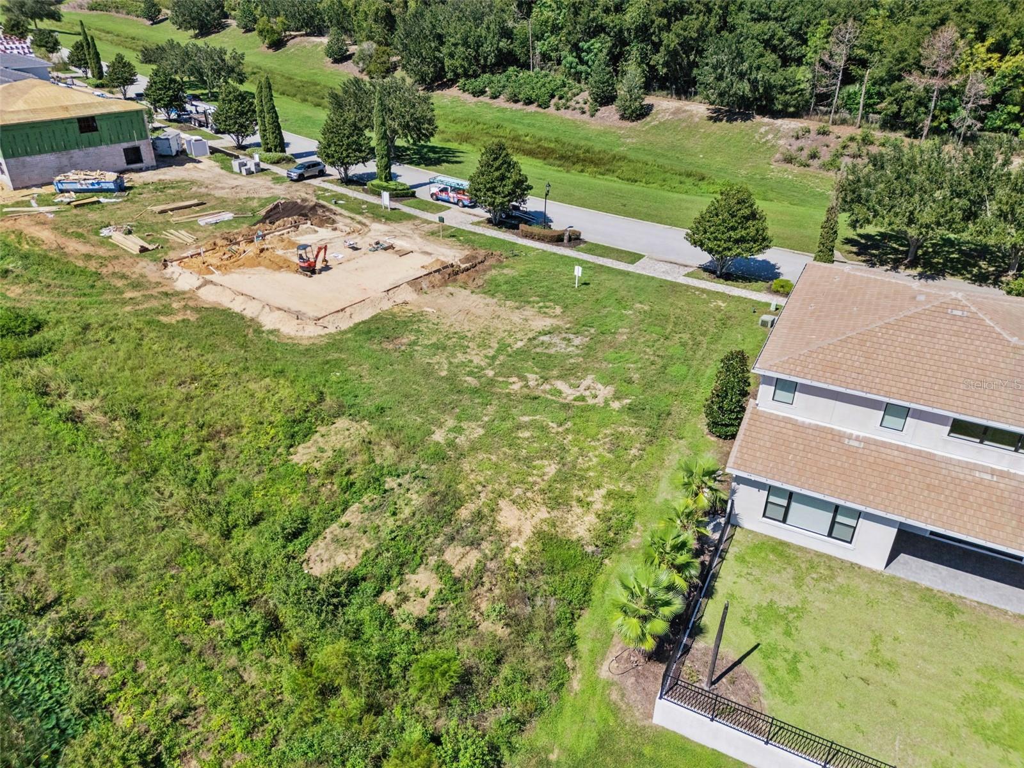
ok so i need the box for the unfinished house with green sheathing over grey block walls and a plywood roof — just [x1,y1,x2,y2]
[0,78,155,189]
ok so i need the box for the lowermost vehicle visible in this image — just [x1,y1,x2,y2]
[294,236,333,276]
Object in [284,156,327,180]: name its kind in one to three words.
car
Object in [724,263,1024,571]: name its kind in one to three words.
house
